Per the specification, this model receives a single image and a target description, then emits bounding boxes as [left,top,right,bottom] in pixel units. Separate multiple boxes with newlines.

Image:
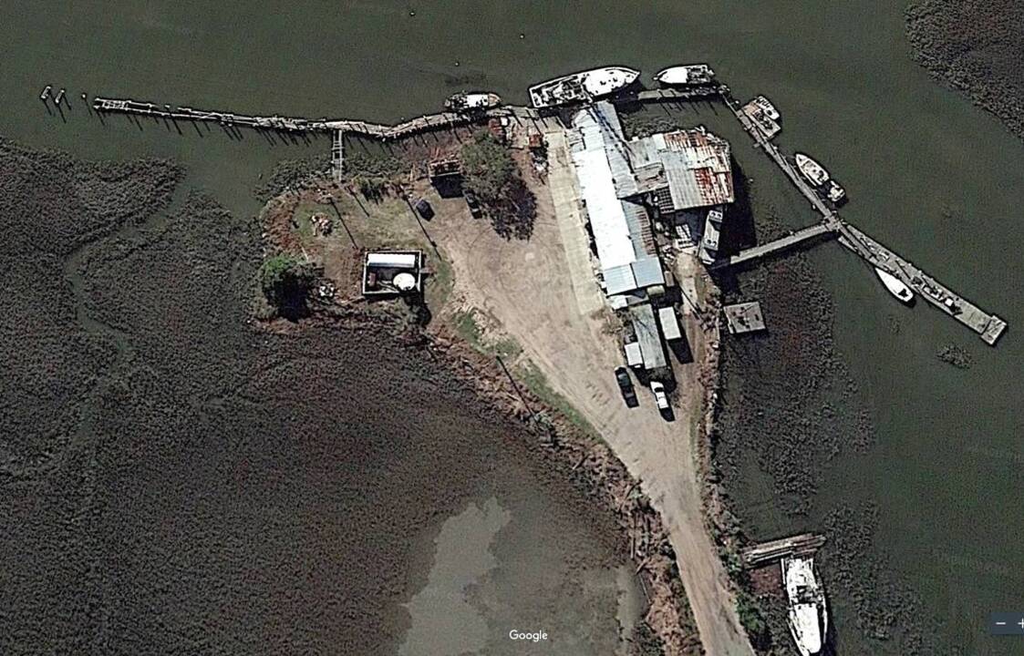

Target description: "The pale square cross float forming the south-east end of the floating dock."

[981,315,1006,345]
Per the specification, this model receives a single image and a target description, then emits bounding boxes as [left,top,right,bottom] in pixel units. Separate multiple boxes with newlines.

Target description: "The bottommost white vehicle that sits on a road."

[652,380,668,409]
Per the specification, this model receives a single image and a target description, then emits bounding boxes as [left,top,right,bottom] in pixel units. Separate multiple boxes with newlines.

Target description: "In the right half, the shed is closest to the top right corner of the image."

[629,127,734,211]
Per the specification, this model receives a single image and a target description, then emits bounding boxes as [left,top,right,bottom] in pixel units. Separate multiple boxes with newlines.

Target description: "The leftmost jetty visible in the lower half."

[745,532,825,584]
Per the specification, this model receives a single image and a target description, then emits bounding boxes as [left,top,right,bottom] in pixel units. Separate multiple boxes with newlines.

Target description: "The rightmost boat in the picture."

[875,266,913,304]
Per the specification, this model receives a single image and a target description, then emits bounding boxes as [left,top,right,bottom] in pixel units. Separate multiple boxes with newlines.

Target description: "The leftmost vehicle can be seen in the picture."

[416,196,432,218]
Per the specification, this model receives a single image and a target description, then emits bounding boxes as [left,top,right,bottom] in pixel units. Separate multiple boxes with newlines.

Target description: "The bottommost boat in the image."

[787,557,825,656]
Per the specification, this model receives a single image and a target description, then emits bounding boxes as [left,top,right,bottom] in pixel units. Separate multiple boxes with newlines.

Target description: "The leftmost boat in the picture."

[445,92,501,110]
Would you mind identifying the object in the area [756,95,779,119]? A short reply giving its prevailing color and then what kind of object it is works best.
white boat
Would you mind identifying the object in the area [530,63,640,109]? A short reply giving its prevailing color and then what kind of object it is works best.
white boat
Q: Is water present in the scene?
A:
Yes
